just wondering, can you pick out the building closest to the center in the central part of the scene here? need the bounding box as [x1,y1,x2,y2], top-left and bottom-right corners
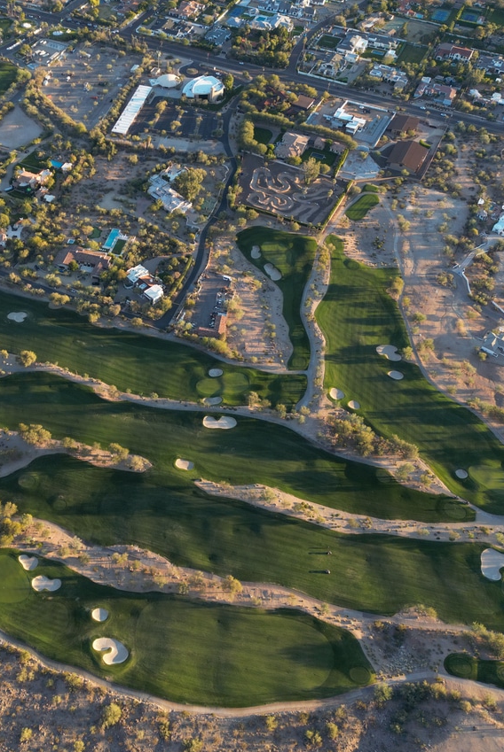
[197,317,230,342]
